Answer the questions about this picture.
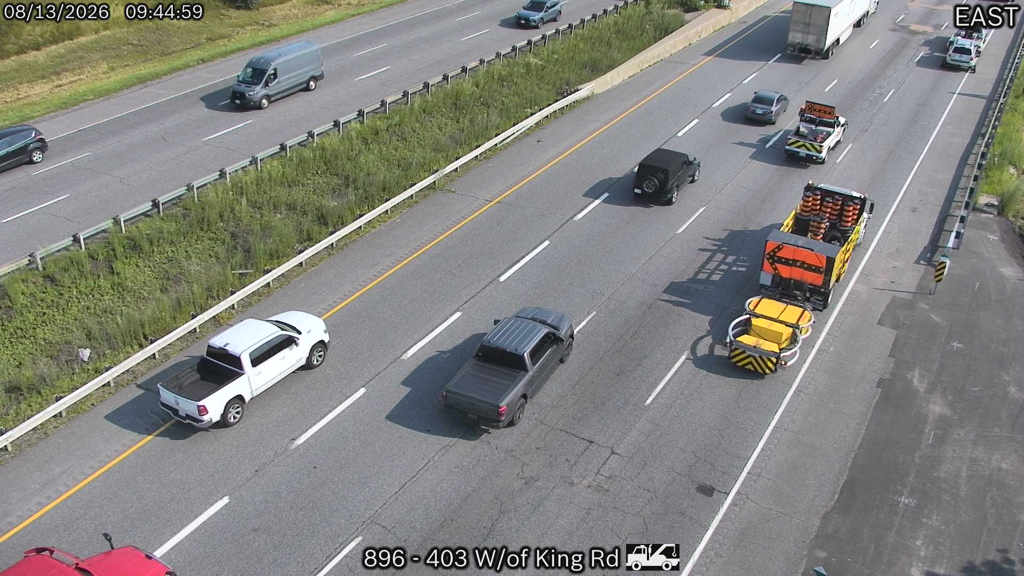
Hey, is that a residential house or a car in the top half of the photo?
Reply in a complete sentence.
The feature located in the top half of the photo is a car.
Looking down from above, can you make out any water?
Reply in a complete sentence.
No, no water is visible.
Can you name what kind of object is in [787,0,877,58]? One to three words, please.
trailer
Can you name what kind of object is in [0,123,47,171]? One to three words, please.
car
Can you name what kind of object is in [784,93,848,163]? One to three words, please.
truck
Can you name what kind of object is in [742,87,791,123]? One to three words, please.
car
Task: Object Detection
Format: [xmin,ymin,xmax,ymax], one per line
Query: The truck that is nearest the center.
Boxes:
[446,308,577,431]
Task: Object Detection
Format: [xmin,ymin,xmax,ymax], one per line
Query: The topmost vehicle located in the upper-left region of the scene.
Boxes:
[226,39,325,109]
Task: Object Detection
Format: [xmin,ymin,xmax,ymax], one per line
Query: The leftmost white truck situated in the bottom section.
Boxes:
[159,311,332,431]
